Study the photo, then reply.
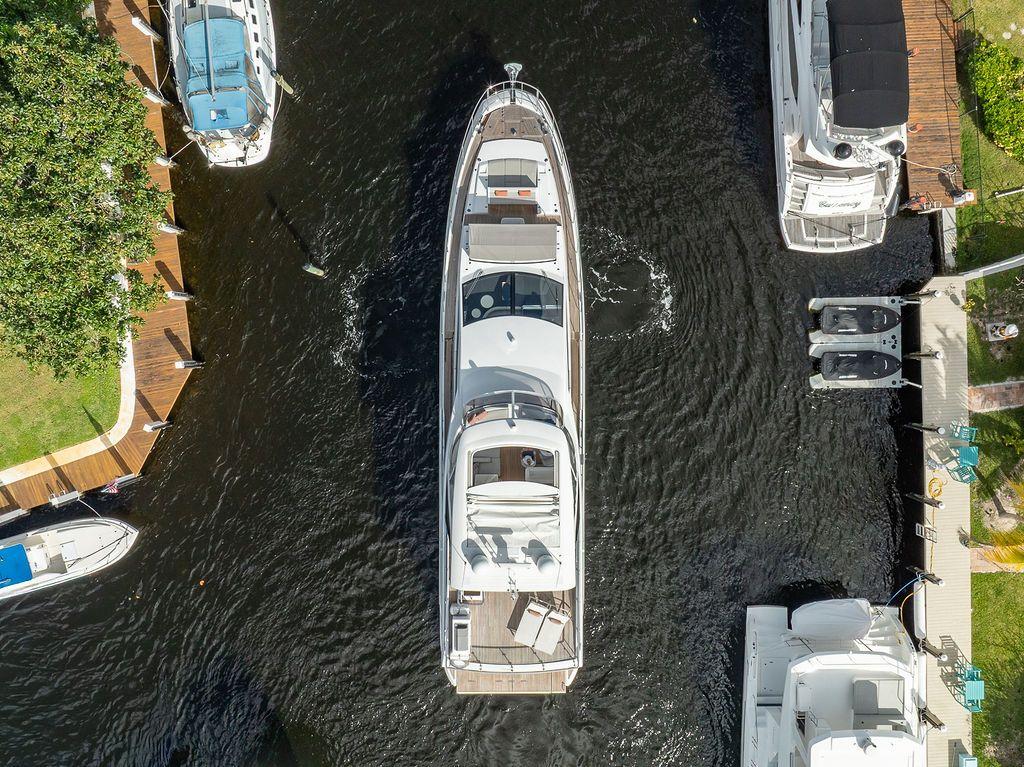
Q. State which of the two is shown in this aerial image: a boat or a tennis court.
boat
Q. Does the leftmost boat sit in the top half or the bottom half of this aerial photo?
bottom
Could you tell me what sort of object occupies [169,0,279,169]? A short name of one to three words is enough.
boat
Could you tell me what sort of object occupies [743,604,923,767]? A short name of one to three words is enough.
boat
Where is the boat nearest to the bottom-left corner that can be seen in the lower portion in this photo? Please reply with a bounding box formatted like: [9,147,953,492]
[0,515,141,599]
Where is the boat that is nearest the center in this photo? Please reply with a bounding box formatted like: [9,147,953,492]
[439,64,586,694]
